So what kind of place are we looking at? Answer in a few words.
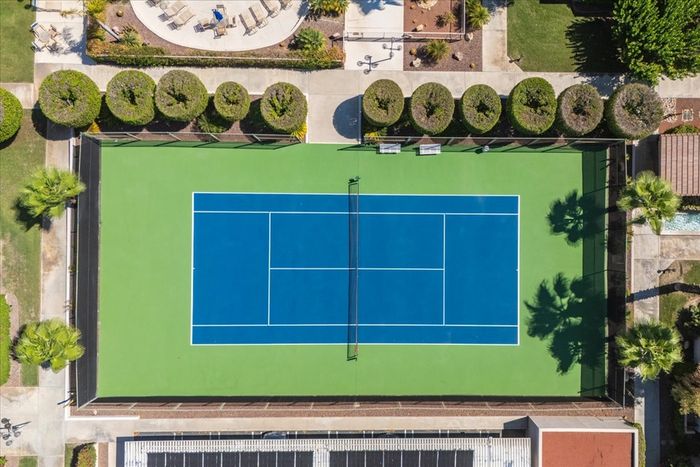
sports ground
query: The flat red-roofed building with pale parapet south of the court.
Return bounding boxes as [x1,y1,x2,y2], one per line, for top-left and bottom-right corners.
[528,416,638,467]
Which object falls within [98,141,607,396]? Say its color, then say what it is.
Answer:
green tennis court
